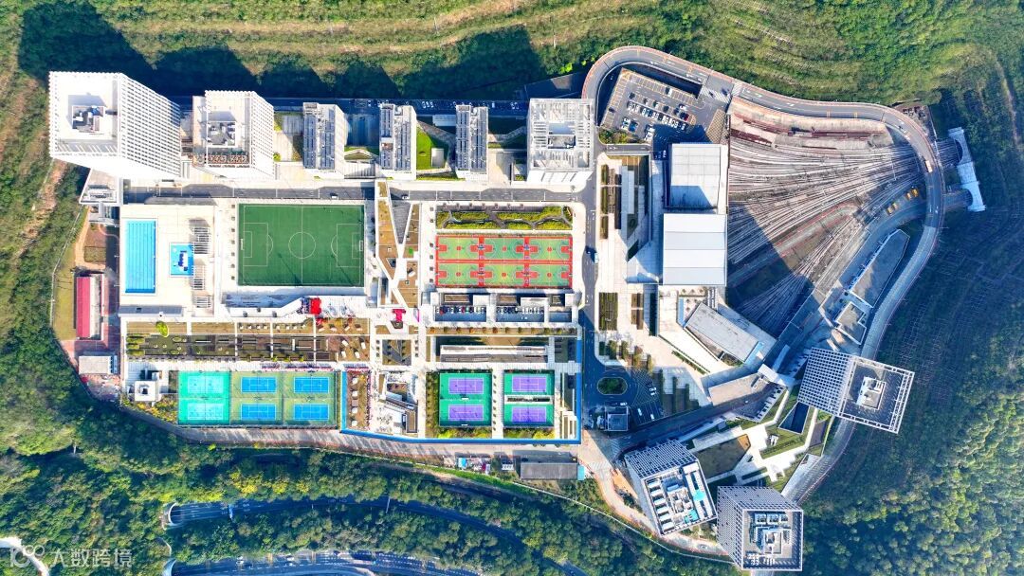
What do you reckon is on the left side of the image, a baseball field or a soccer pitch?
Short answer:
soccer pitch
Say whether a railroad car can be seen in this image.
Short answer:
No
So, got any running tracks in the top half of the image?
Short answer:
No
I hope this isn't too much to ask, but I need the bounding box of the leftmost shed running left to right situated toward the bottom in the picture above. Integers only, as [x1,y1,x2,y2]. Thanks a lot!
[79,356,118,375]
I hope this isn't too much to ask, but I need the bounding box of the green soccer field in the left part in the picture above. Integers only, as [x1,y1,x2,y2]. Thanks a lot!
[238,204,364,286]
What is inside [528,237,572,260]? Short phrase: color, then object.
green basketball court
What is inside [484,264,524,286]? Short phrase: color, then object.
green basketball court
